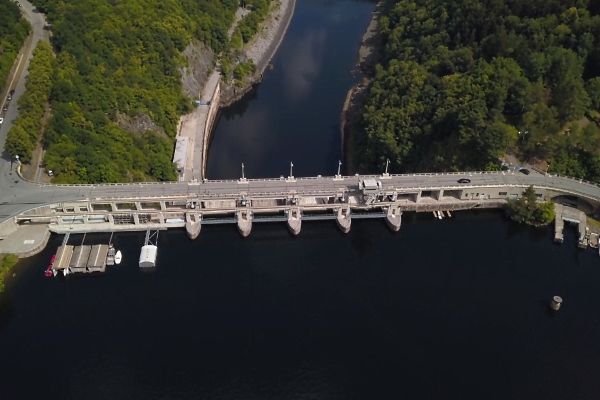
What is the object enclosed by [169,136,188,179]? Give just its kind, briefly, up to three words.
building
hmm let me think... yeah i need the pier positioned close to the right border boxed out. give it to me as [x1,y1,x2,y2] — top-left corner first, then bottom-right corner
[551,206,589,250]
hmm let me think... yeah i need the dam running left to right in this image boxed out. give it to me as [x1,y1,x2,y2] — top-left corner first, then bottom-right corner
[16,173,600,239]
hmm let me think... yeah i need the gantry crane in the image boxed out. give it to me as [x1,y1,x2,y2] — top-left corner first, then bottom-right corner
[357,180,383,205]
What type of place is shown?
port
